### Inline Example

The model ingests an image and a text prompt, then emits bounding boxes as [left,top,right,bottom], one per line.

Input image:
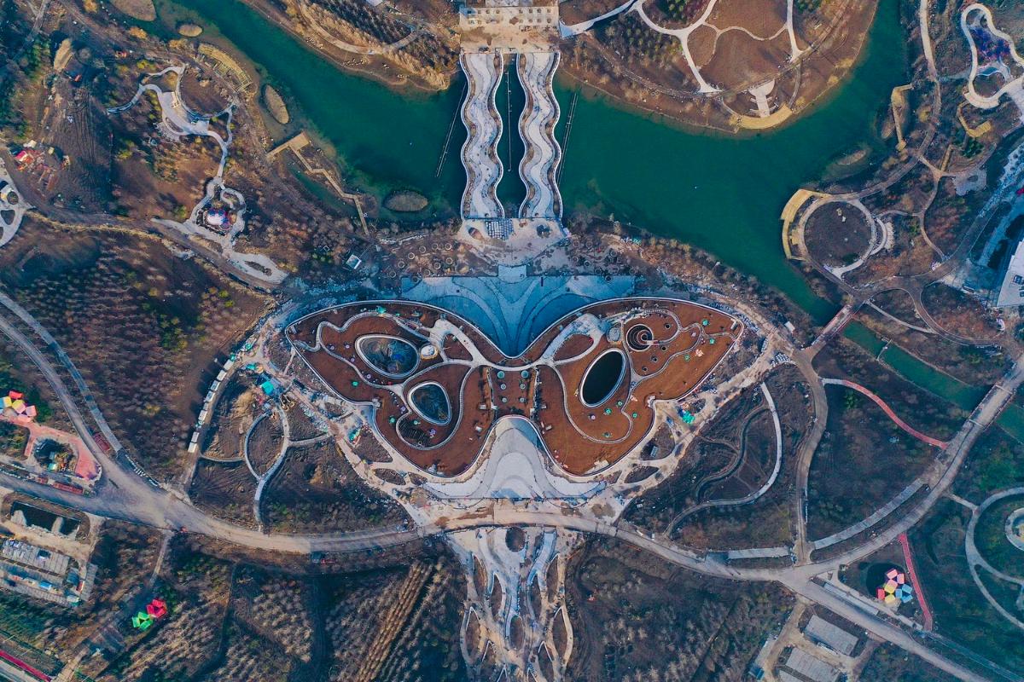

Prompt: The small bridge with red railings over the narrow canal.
[813,297,857,347]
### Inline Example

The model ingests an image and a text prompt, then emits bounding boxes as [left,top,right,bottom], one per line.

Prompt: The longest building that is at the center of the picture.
[286,298,743,476]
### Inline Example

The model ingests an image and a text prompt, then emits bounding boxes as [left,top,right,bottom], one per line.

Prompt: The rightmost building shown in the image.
[988,239,1024,307]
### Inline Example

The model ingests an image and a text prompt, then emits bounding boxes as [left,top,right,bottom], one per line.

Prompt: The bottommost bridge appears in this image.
[960,376,1008,428]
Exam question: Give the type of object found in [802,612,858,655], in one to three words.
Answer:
shed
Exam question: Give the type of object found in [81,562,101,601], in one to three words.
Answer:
shed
